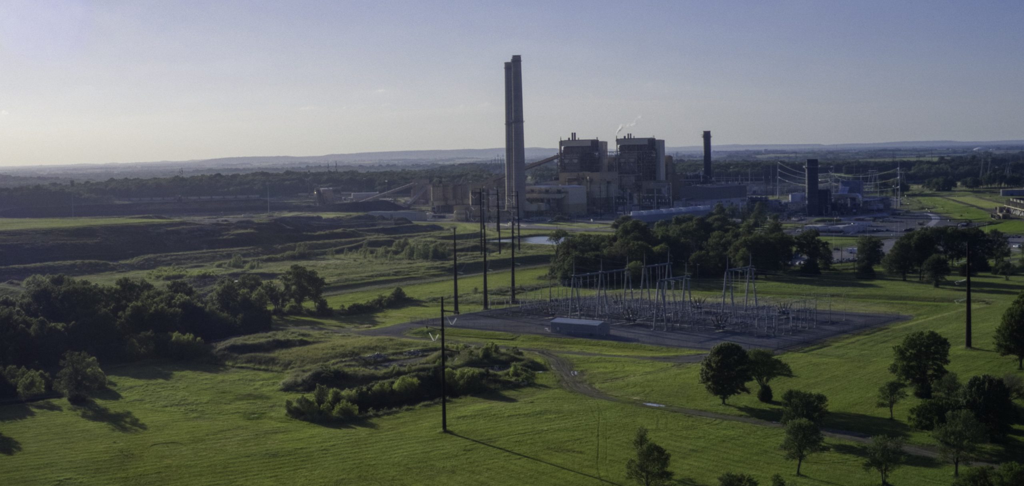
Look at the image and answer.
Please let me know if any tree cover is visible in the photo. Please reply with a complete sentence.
Yes, tree cover shows up in the scene.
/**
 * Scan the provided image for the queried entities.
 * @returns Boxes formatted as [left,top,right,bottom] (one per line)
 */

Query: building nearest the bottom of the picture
[550,314,603,336]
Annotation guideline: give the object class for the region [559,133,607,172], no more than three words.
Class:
building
